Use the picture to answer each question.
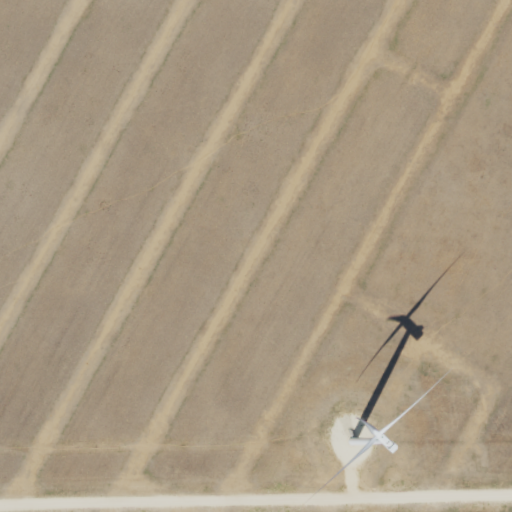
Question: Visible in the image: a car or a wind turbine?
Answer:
wind turbine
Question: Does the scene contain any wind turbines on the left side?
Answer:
No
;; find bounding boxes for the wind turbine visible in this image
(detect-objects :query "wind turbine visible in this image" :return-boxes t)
[324,365,450,492]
